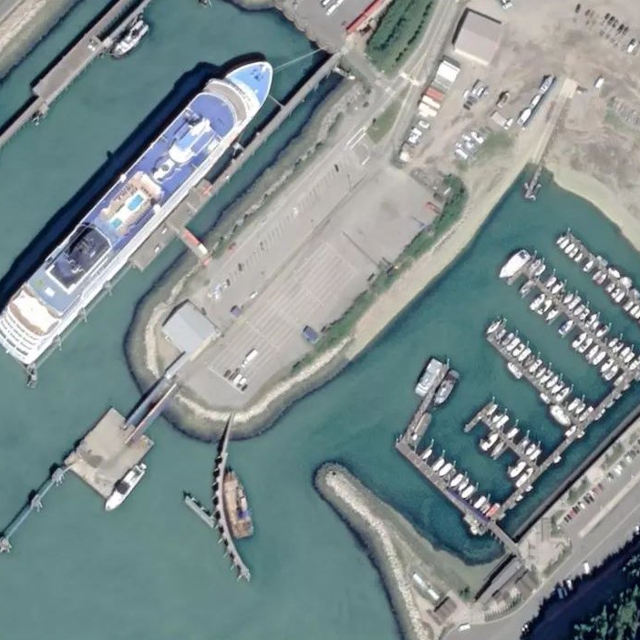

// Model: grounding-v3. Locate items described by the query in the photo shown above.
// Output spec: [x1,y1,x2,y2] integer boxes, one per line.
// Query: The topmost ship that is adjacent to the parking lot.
[0,66,268,362]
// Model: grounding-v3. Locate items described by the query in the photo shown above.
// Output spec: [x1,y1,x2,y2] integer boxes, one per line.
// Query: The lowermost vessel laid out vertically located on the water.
[224,470,253,540]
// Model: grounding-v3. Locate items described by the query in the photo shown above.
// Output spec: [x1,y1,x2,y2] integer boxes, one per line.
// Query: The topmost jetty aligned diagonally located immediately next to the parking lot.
[206,54,348,191]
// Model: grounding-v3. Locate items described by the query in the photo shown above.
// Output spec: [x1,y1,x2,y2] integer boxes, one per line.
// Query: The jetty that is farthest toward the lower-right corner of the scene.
[493,516,527,561]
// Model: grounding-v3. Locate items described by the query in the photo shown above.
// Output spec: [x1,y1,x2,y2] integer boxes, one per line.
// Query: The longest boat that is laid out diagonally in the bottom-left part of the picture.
[108,461,150,506]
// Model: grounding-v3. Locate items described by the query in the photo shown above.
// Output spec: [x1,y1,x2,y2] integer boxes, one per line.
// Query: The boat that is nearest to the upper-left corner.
[115,25,143,53]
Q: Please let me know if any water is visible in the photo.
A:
Yes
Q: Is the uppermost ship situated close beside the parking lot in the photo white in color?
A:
Yes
